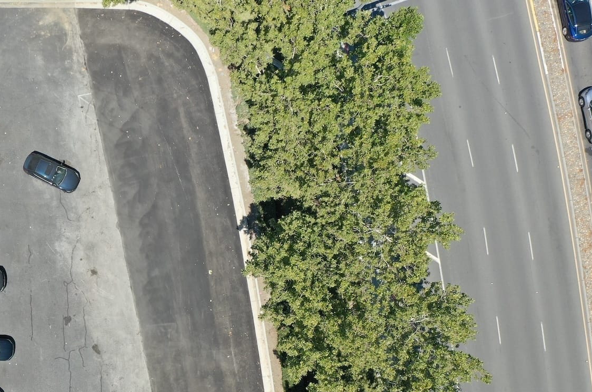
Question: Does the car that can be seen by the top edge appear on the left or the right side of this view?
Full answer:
It is on the right.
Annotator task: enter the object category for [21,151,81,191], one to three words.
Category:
car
